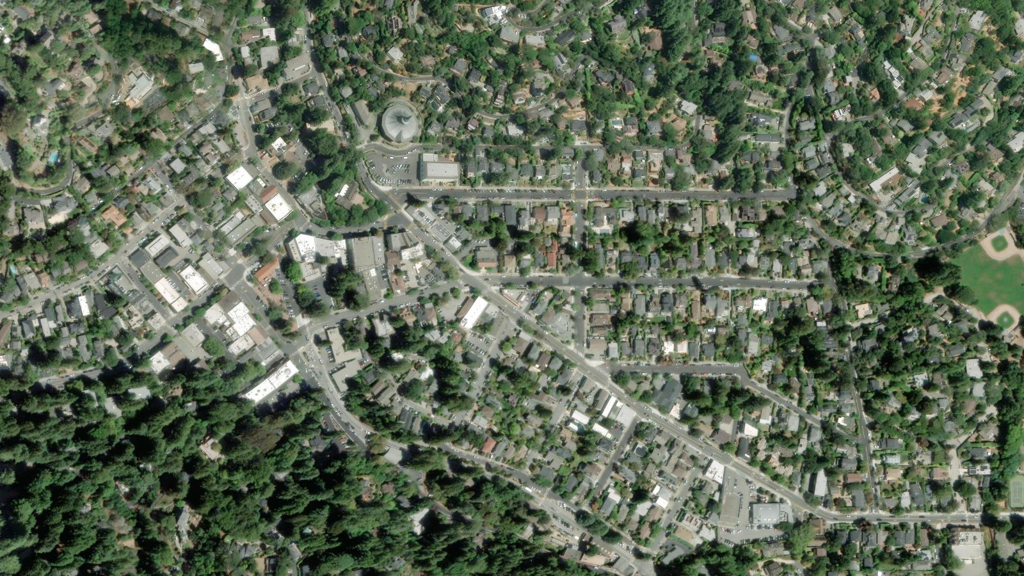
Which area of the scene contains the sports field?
right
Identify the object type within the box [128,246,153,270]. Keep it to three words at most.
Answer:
building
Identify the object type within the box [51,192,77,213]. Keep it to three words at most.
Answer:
house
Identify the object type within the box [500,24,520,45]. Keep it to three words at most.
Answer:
building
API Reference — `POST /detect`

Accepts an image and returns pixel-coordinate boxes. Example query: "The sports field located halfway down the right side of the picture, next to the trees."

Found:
[949,234,1024,318]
